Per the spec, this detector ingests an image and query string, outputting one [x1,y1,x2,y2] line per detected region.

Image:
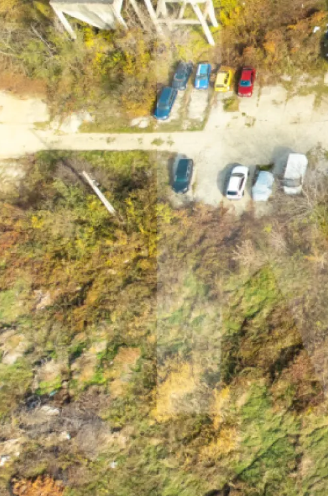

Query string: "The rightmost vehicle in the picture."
[280,147,307,198]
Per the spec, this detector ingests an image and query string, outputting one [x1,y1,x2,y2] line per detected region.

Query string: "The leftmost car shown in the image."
[153,85,180,121]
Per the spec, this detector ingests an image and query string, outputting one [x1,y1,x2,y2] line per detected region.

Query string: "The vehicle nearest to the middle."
[170,156,193,194]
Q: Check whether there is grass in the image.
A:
Yes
